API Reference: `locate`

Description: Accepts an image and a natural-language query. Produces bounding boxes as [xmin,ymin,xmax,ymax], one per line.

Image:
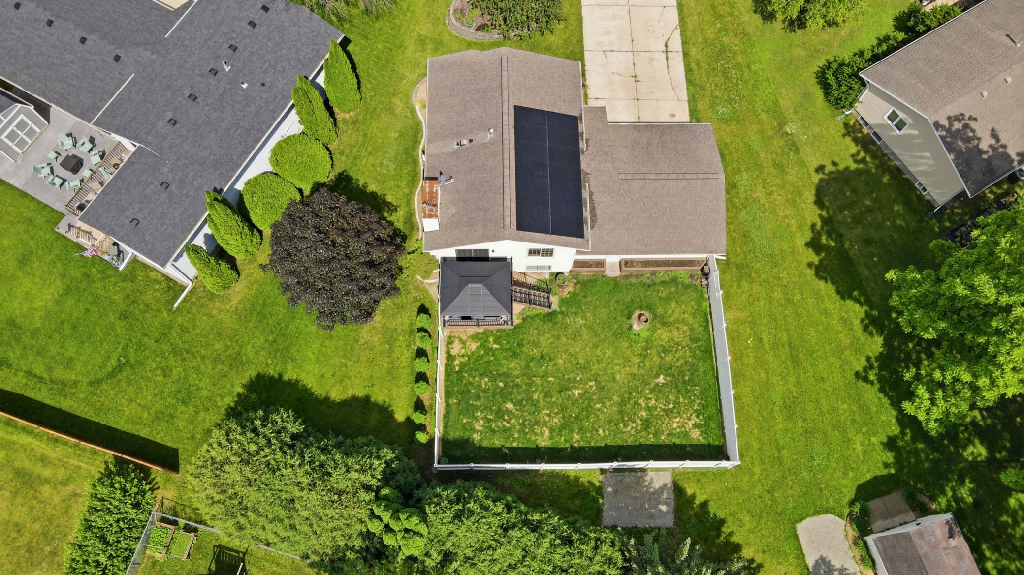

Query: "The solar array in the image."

[514,106,582,239]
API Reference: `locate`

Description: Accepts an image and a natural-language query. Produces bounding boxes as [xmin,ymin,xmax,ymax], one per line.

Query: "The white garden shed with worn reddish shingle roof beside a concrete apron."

[867,509,979,575]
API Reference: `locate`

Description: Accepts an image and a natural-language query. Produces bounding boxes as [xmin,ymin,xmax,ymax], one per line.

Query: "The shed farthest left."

[0,85,49,162]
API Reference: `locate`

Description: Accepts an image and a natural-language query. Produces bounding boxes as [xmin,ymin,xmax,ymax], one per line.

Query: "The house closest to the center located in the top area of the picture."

[421,48,726,272]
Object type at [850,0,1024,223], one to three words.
house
